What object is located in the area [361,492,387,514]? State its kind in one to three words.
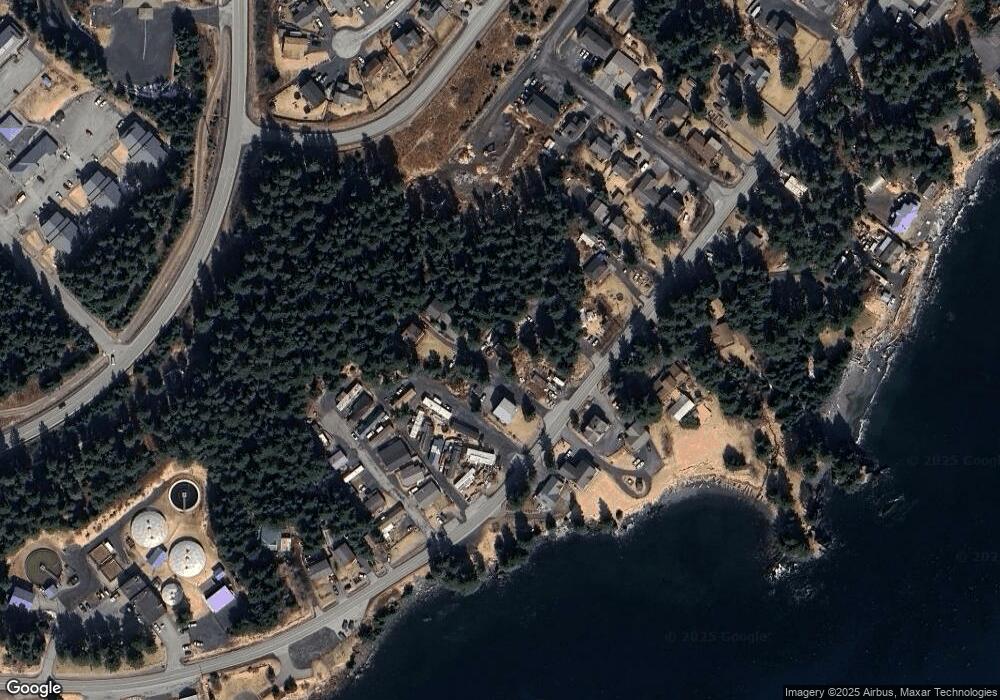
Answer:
house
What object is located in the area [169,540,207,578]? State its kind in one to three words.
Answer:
storage tank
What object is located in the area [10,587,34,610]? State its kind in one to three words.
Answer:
building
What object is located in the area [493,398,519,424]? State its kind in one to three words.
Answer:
barn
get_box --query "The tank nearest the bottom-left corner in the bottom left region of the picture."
[24,549,62,586]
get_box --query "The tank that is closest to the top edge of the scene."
[169,480,200,511]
